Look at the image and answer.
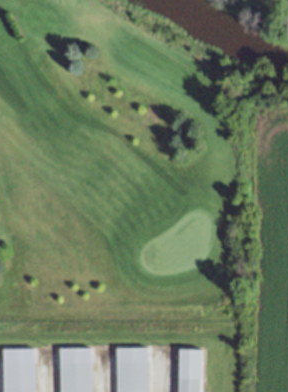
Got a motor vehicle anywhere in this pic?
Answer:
No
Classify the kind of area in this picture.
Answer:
golf course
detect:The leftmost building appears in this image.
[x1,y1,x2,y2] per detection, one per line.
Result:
[2,348,36,392]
